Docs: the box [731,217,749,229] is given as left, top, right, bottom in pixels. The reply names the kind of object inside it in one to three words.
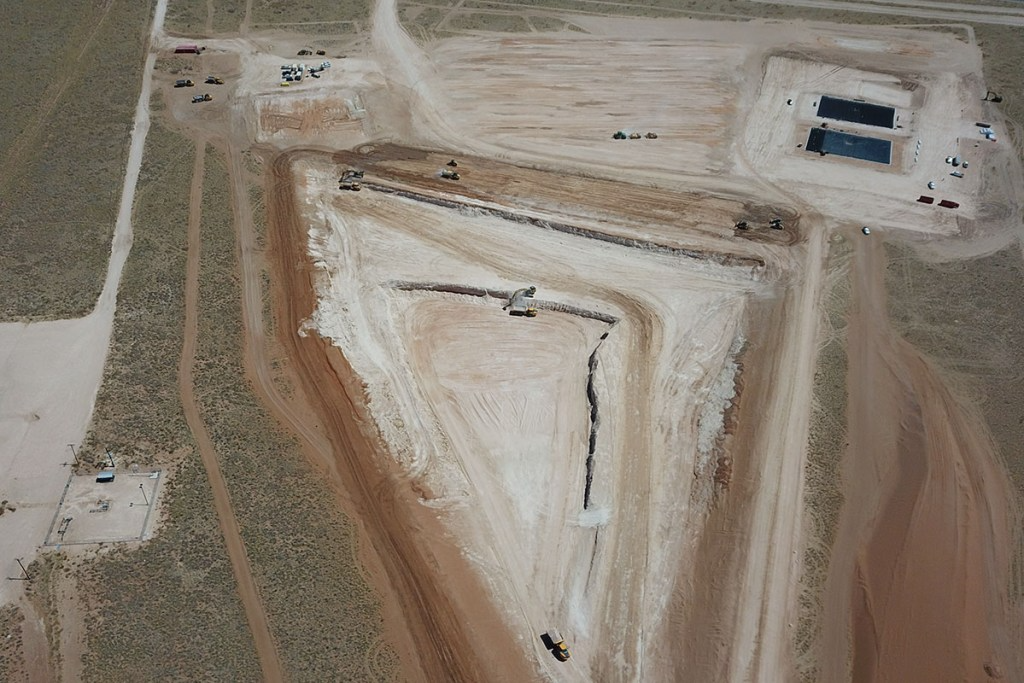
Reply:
vehicle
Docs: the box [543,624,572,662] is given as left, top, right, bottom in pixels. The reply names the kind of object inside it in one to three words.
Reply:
truck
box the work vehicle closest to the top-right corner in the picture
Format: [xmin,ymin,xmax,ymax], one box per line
[982,90,1008,102]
